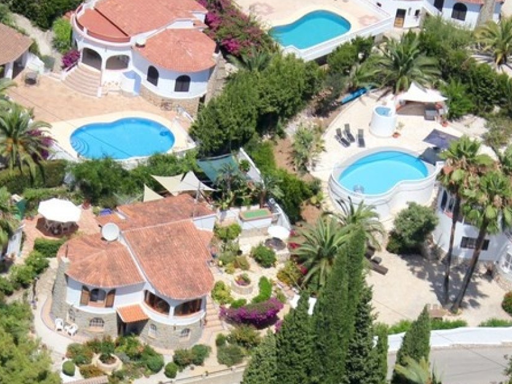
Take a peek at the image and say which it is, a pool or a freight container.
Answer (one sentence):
The one in the frame is a pool.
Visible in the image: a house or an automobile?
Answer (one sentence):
The image shows a house.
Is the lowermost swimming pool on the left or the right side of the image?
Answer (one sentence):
The lowermost swimming pool is on the right side of the image.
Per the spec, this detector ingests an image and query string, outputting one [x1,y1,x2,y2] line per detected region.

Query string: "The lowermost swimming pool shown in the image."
[327,147,442,235]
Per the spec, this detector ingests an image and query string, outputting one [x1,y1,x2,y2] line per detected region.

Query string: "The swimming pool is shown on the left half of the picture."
[57,111,187,165]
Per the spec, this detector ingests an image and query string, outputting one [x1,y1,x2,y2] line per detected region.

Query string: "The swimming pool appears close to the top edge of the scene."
[262,6,358,49]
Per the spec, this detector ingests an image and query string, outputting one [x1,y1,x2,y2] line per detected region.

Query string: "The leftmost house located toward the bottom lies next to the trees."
[52,193,217,344]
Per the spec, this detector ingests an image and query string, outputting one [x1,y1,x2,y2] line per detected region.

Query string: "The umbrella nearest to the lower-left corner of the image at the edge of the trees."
[38,199,82,224]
